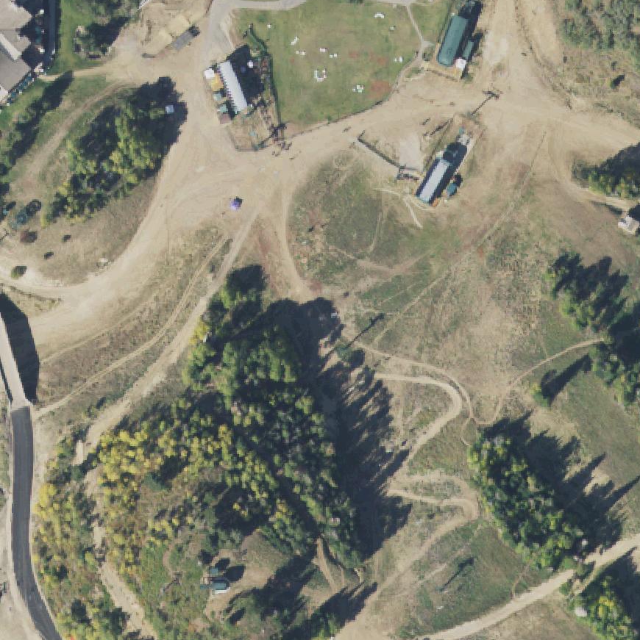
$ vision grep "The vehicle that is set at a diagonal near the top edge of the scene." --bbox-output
[174,30,196,48]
